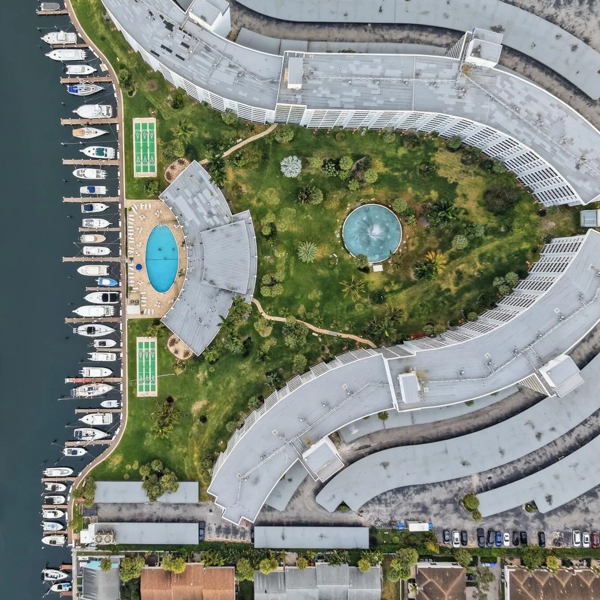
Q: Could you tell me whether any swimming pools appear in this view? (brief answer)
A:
Yes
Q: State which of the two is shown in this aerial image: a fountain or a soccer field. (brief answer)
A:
fountain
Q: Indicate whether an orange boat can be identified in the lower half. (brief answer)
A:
No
